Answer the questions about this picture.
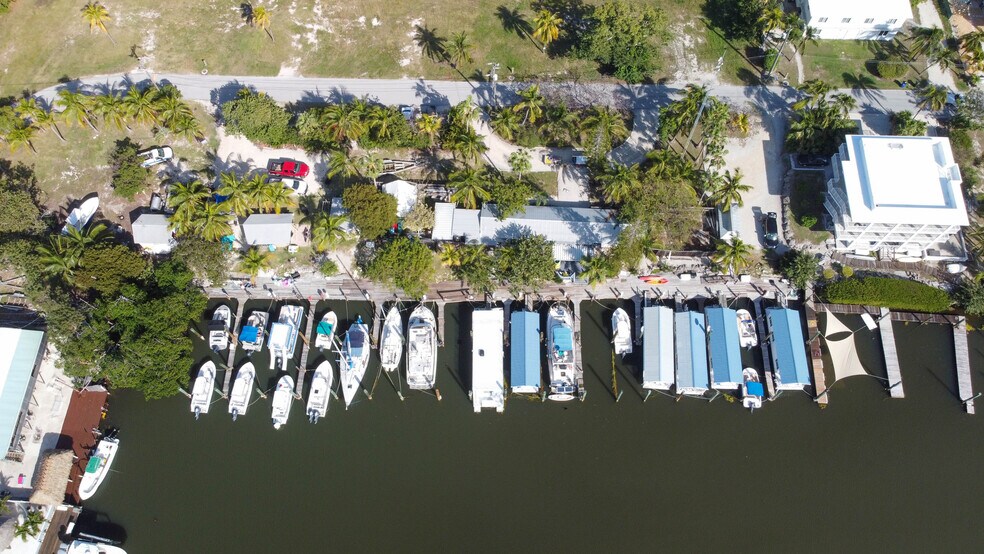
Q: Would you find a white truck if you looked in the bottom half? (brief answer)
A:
No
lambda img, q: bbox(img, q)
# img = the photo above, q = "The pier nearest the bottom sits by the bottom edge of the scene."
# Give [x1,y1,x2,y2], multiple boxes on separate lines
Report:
[41,507,83,554]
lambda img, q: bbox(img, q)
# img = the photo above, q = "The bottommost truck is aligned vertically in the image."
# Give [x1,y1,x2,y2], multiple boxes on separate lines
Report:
[758,211,782,252]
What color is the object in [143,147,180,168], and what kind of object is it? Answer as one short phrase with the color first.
white truck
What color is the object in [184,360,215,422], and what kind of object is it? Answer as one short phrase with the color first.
white boat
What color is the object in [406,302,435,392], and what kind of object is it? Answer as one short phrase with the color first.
white boat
